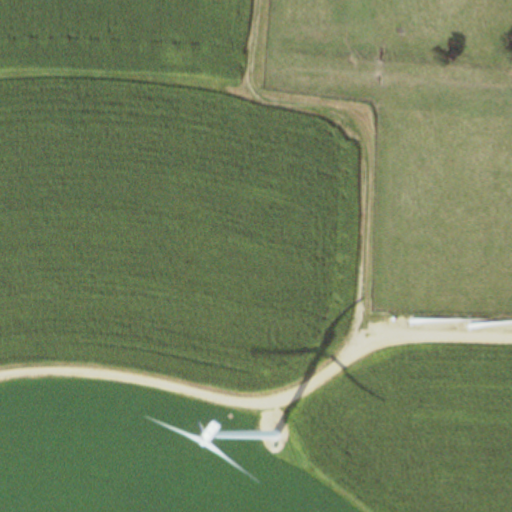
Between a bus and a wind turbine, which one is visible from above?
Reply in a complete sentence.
Of the two, only a wind turbine appears.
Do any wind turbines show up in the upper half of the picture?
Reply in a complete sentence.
No, no wind turbine is visible in the upper half of the picture.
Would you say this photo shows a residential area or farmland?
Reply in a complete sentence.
It's farmland.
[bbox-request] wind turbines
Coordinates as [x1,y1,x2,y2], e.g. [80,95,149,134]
[148,417,282,485]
